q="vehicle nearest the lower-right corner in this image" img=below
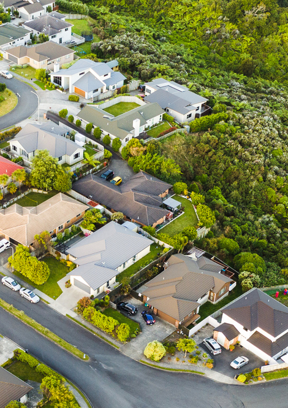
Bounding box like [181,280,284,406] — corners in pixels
[225,354,255,371]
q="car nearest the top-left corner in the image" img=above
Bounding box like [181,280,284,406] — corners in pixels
[0,67,15,80]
